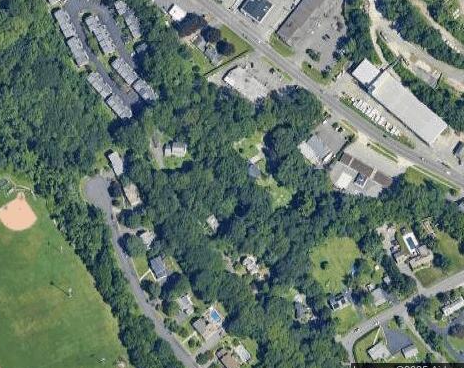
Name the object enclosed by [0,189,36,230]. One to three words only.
baseball field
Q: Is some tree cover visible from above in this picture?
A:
Yes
